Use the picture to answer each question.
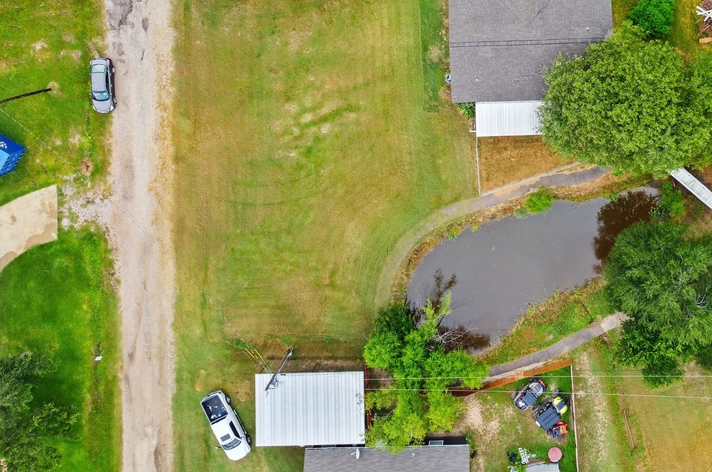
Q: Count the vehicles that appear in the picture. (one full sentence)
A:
The picture shows 4 vehicles.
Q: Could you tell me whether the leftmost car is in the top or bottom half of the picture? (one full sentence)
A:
Seen from above, the leftmost car lies in the top half of the view.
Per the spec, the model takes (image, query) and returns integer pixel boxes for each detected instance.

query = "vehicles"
[88,57,118,113]
[534,394,569,430]
[513,378,546,413]
[199,393,252,463]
